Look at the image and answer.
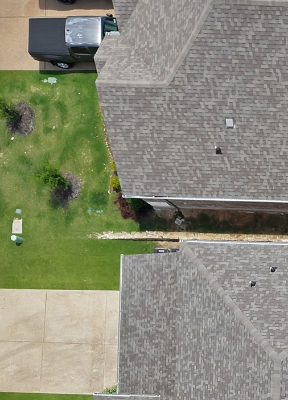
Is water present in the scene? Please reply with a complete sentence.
No, water can't be seen anywhere here.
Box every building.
[91,238,288,400]
[93,0,288,218]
